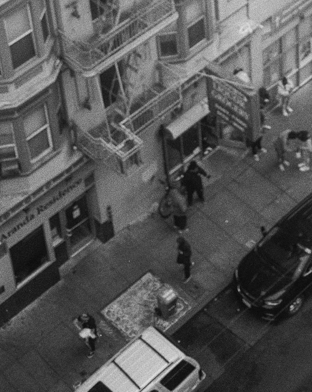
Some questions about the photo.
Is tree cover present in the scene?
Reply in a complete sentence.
No, no tree cover is visible.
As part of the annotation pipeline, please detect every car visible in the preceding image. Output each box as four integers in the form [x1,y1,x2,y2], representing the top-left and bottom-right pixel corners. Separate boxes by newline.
[72,319,208,392]
[223,182,312,328]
